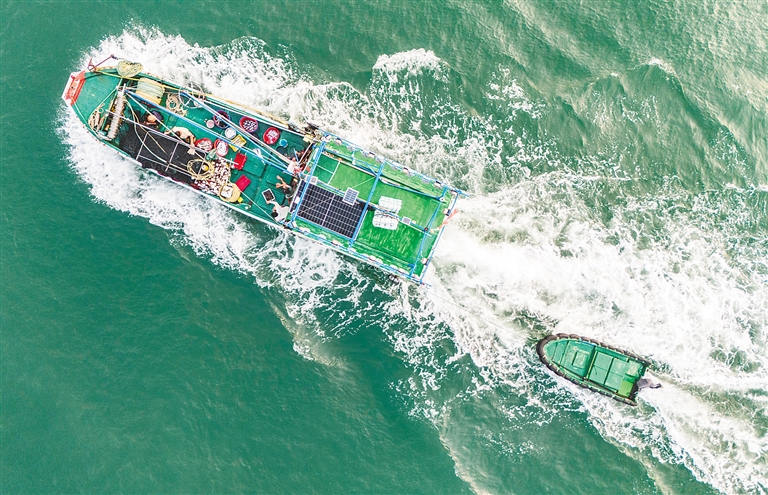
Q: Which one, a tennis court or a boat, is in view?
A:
boat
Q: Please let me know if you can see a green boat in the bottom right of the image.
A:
Yes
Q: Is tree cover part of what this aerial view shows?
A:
No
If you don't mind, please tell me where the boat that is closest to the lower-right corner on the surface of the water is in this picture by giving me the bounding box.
[537,332,662,404]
